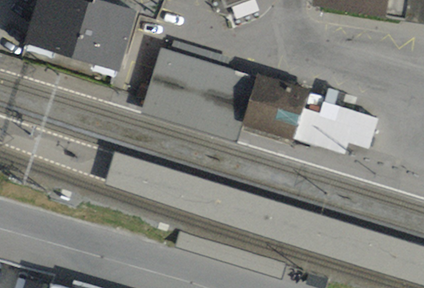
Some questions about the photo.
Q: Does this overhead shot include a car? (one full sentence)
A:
Yes, I can see a car in this picture.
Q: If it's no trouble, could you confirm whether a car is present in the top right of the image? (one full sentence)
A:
No, I see no car in the top right of the image.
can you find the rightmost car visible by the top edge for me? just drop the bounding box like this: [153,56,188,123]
[162,13,186,26]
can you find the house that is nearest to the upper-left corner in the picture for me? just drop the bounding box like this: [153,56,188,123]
[22,0,137,78]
